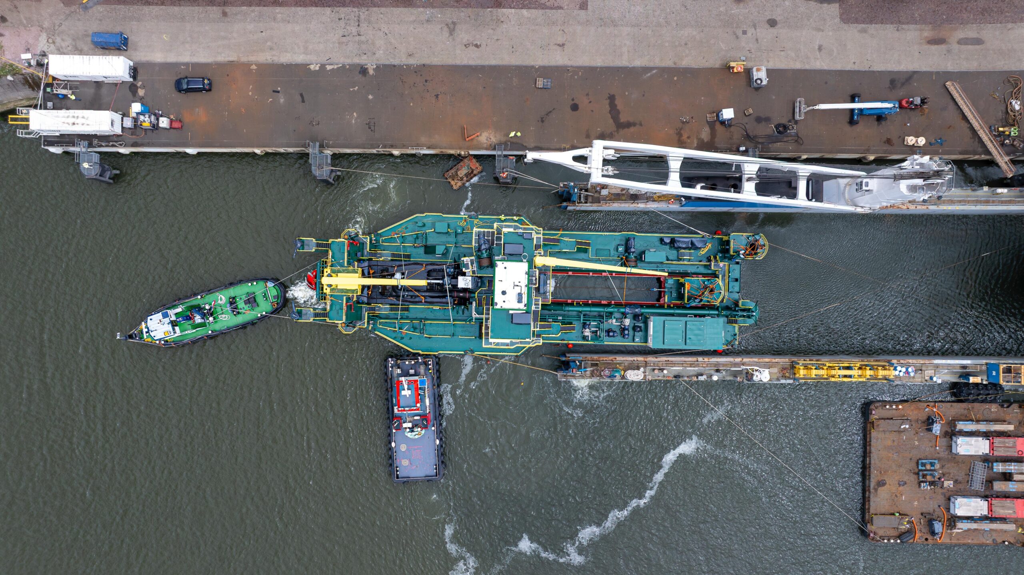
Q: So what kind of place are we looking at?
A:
port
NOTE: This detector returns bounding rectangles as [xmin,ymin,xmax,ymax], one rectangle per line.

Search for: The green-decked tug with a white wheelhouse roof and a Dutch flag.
[117,275,289,348]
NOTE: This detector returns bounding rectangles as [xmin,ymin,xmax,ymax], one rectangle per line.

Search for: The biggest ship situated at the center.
[291,213,768,357]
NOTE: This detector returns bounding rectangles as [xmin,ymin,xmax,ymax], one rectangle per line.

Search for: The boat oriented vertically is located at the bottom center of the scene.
[384,353,446,486]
